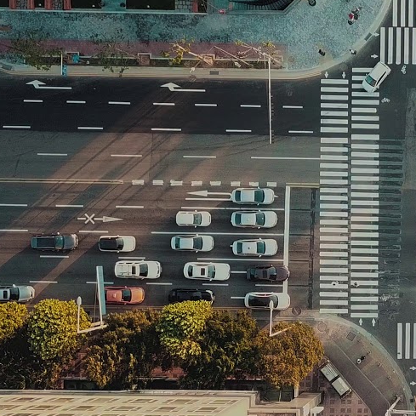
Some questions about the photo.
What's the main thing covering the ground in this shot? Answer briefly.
paved ground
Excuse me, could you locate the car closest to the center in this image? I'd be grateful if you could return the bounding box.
[176,209,214,228]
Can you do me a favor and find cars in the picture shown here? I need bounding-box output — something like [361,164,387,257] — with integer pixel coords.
[231,210,279,228]
[171,233,216,252]
[232,238,278,257]
[184,262,232,282]
[115,260,164,280]
[244,290,292,311]
[106,285,148,306]
[176,209,214,228]
[363,59,392,94]
[231,186,278,205]
[99,234,138,253]
[168,287,216,305]
[0,284,38,303]
[30,232,81,251]
[247,264,290,283]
